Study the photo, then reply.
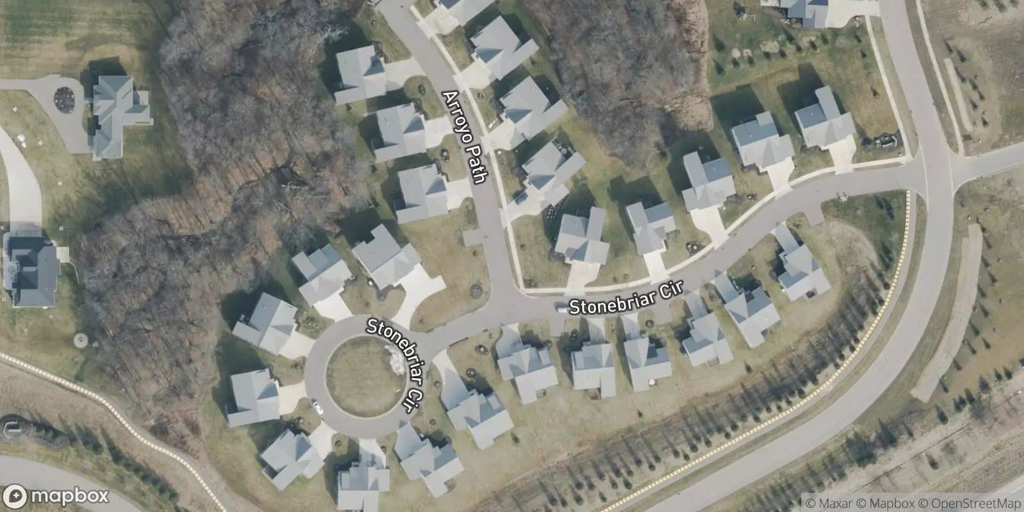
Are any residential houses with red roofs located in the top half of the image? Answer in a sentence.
No, the scene shows no residential house with a red roof in the top half of the image.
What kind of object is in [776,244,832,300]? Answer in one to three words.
house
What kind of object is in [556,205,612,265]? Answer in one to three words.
house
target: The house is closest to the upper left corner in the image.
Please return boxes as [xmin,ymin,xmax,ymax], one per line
[92,76,151,159]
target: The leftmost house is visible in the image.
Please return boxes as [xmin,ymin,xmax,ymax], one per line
[9,238,60,307]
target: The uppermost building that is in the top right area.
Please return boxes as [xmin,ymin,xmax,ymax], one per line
[777,0,833,28]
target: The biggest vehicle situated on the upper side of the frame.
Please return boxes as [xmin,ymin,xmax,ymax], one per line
[514,190,529,204]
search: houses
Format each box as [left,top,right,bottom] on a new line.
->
[9,238,60,307]
[556,205,612,265]
[326,46,387,105]
[261,430,335,499]
[776,244,832,300]
[680,153,738,212]
[791,85,857,151]
[351,223,422,290]
[434,0,495,26]
[469,16,539,80]
[722,287,780,348]
[221,368,281,427]
[498,76,568,140]
[520,142,591,219]
[495,343,559,404]
[387,164,448,222]
[232,292,297,354]
[337,464,389,512]
[623,200,677,257]
[286,244,349,304]
[729,110,797,171]
[366,103,427,162]
[446,391,513,453]
[681,312,733,368]
[777,0,833,28]
[622,334,672,392]
[570,344,616,397]
[92,76,151,159]
[401,444,468,505]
